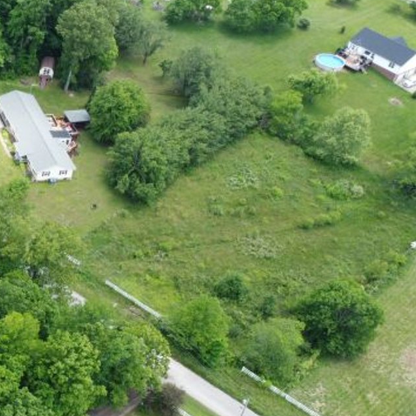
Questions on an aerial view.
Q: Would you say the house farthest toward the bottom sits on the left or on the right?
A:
left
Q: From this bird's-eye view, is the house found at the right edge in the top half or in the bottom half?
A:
top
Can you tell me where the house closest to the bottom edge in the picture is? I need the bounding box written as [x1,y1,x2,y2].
[0,86,95,180]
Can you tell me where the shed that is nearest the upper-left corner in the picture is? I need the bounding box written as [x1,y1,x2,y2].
[37,54,53,83]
